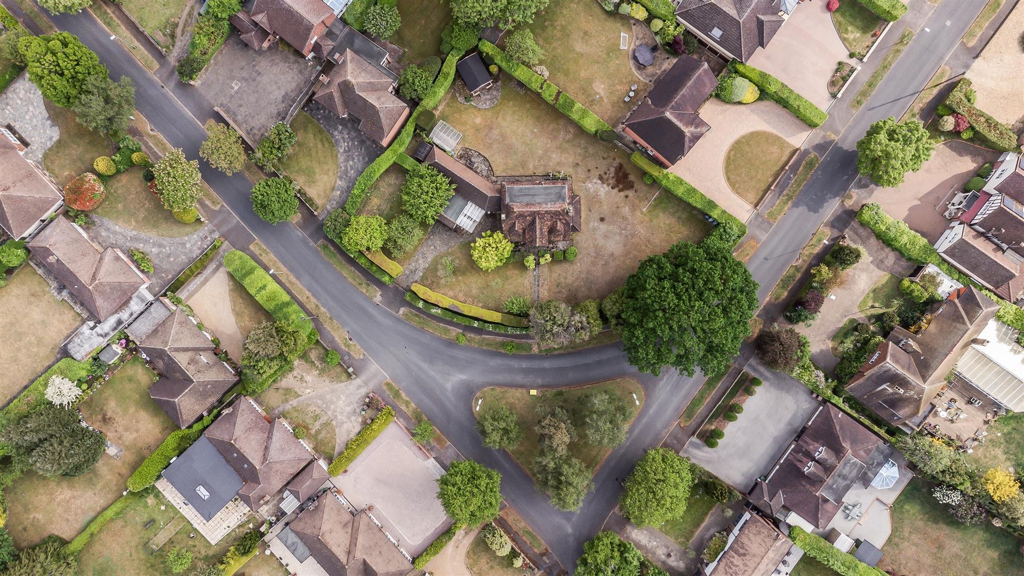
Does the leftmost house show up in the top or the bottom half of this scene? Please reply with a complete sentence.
You can find the leftmost house in the top half.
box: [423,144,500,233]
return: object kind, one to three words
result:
shed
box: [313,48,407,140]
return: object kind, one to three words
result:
house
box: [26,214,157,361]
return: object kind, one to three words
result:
house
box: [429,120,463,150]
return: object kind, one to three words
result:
greenhouse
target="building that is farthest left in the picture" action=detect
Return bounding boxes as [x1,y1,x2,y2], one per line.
[0,123,75,241]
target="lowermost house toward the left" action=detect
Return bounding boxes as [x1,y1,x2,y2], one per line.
[277,488,414,576]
